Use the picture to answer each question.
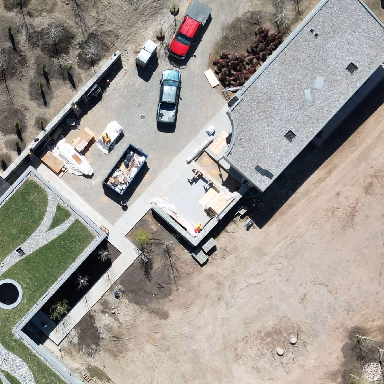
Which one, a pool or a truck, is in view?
truck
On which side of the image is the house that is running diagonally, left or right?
right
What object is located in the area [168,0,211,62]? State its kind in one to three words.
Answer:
truck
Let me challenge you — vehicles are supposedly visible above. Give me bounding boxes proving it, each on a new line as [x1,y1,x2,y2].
[156,67,183,127]
[168,0,211,62]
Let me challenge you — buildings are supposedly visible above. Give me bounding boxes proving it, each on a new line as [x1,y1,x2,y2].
[0,166,105,384]
[221,0,384,192]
